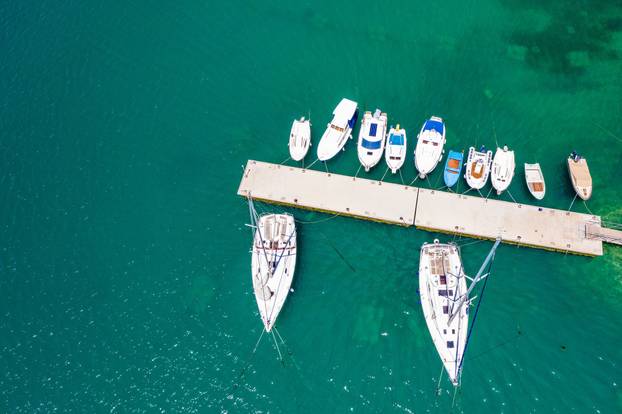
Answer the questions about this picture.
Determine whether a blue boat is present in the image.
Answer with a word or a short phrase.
Yes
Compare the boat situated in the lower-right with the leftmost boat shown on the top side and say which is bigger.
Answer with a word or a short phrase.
the boat situated in the lower-right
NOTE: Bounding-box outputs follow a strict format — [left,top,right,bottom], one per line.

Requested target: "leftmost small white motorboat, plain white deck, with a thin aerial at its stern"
[287,108,312,163]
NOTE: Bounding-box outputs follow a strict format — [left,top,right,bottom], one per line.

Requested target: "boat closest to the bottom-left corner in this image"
[247,186,298,333]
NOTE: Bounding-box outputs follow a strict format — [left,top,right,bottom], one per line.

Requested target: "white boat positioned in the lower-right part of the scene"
[415,233,502,386]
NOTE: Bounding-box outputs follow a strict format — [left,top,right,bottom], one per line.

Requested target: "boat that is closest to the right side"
[566,151,592,202]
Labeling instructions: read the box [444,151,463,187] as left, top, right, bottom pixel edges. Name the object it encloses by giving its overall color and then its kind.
blue boat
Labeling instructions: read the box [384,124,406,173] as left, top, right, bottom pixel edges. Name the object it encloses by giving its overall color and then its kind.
white boat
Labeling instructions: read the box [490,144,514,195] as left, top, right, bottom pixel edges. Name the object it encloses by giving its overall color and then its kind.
white boat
